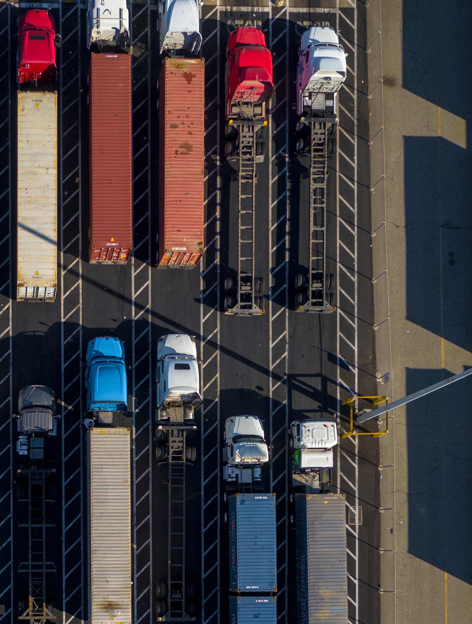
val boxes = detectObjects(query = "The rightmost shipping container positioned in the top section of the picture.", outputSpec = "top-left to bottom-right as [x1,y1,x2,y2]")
[160,57,205,266]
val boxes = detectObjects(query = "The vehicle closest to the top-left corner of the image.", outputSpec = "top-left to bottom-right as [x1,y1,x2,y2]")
[13,8,62,91]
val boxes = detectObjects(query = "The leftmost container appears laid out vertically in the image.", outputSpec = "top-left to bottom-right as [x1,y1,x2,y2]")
[17,91,57,299]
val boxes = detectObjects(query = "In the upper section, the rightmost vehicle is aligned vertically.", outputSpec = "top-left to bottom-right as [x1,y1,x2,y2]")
[297,27,350,164]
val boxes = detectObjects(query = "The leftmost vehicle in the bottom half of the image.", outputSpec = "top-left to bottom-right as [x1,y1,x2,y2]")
[13,384,62,514]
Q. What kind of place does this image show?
parking lot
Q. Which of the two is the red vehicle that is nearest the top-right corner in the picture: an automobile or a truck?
truck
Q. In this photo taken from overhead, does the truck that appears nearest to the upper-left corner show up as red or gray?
red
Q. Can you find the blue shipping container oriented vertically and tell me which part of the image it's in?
bottom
